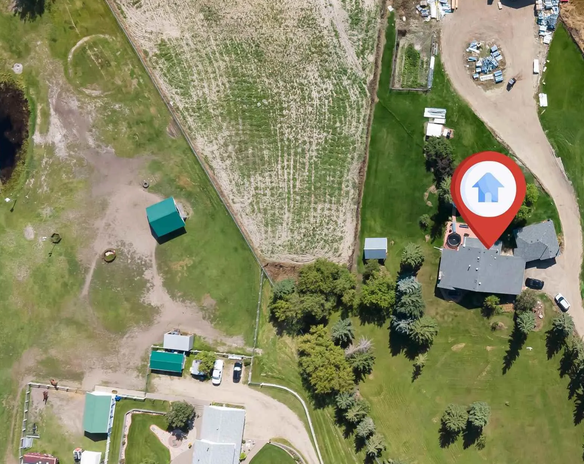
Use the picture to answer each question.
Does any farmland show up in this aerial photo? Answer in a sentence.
Yes, farmland can be seen from above here.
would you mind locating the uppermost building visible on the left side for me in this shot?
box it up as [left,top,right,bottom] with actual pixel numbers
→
[145,196,189,237]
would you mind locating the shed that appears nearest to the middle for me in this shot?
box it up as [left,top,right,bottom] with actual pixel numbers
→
[364,238,389,259]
